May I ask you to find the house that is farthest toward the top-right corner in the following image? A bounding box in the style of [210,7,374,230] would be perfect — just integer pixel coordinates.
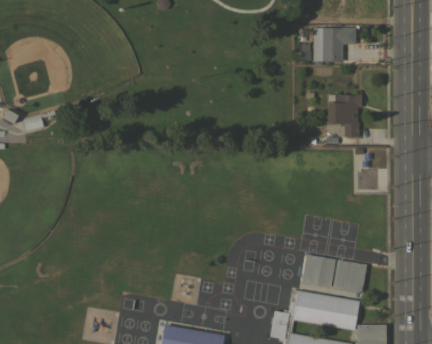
[314,28,356,62]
